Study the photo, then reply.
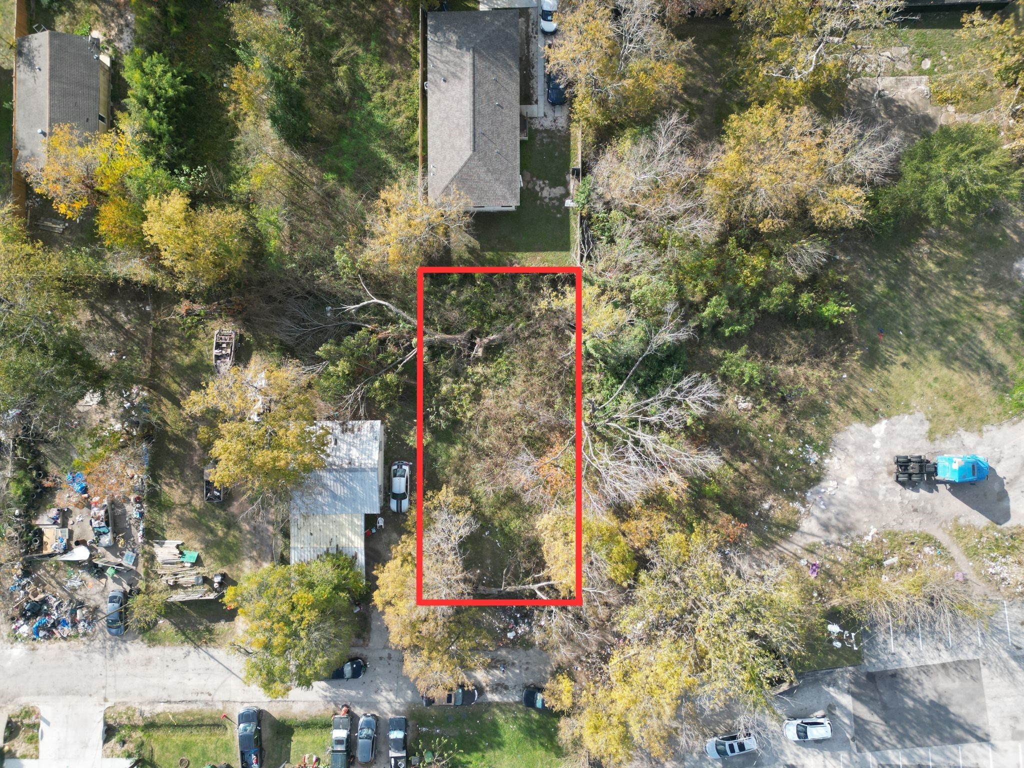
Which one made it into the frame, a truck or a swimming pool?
truck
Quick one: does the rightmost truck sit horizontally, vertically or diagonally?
horizontally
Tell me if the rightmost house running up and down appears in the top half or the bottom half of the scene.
top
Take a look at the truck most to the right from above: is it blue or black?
blue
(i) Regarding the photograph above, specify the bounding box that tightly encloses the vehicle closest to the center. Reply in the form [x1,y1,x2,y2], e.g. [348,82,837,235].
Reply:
[388,461,412,512]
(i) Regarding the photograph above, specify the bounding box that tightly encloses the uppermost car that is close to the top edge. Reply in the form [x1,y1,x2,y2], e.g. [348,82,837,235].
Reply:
[537,0,561,38]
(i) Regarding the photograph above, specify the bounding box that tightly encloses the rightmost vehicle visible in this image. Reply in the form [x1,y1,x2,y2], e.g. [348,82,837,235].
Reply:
[888,453,991,486]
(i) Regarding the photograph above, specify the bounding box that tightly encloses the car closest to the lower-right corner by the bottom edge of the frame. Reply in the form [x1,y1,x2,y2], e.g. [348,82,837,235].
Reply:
[781,717,830,743]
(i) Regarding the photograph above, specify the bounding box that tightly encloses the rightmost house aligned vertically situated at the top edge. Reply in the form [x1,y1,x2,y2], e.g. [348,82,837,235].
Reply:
[426,2,528,211]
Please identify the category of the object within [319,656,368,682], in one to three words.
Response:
car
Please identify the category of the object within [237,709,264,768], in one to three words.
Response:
truck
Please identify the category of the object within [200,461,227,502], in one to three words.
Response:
trailer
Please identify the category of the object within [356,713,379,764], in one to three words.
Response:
car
